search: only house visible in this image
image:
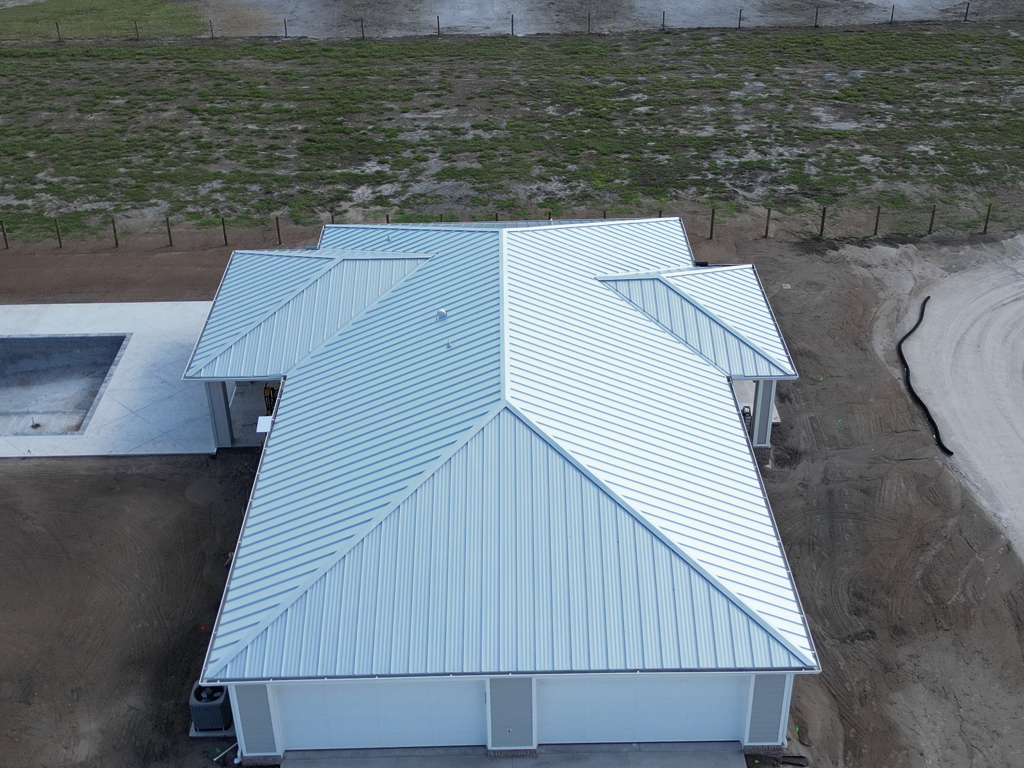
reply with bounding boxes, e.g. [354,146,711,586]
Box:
[181,217,821,765]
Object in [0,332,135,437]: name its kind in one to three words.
swimming pool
